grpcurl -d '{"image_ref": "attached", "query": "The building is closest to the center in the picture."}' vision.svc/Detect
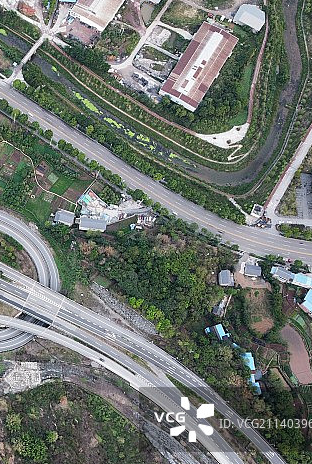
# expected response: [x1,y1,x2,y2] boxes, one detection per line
[77,217,108,232]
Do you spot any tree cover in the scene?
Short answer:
Yes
